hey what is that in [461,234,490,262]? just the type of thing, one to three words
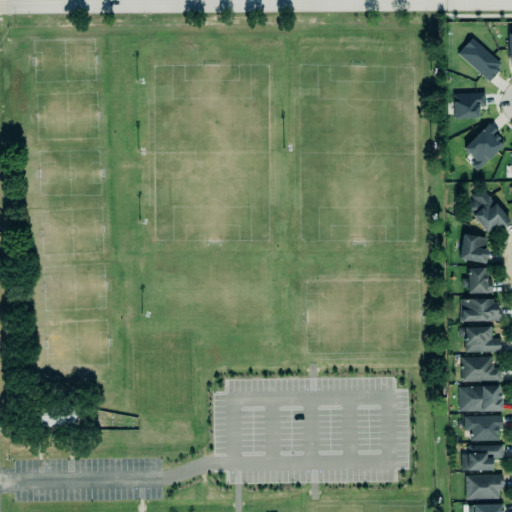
house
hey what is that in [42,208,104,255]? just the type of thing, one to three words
soccer field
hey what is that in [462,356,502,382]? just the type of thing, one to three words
house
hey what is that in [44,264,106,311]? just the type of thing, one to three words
soccer field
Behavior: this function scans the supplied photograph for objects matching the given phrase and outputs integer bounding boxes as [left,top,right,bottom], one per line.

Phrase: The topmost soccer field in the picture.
[35,38,97,82]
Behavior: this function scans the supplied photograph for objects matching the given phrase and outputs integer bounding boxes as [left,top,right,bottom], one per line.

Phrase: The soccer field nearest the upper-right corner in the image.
[294,65,416,241]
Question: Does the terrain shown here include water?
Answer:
No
